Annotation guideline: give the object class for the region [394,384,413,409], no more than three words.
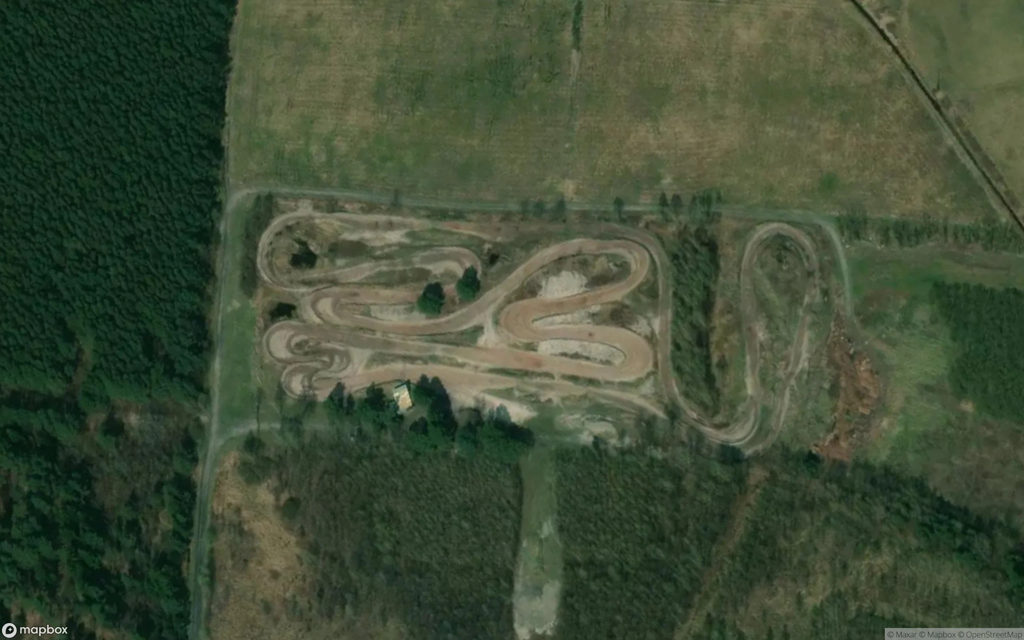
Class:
shed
